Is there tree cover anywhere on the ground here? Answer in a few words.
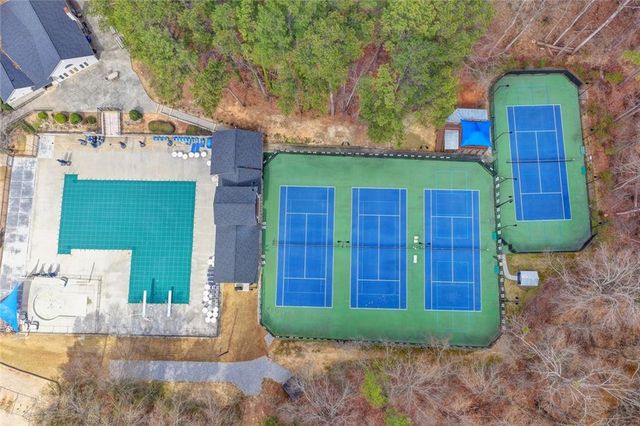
Yes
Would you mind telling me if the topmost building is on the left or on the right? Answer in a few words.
left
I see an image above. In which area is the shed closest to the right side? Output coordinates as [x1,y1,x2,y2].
[515,271,539,285]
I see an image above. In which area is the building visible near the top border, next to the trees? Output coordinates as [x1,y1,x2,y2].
[0,0,100,112]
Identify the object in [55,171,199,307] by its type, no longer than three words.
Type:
swimming pool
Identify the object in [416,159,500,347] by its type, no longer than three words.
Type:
tennis court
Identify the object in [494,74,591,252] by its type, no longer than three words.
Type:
tennis court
